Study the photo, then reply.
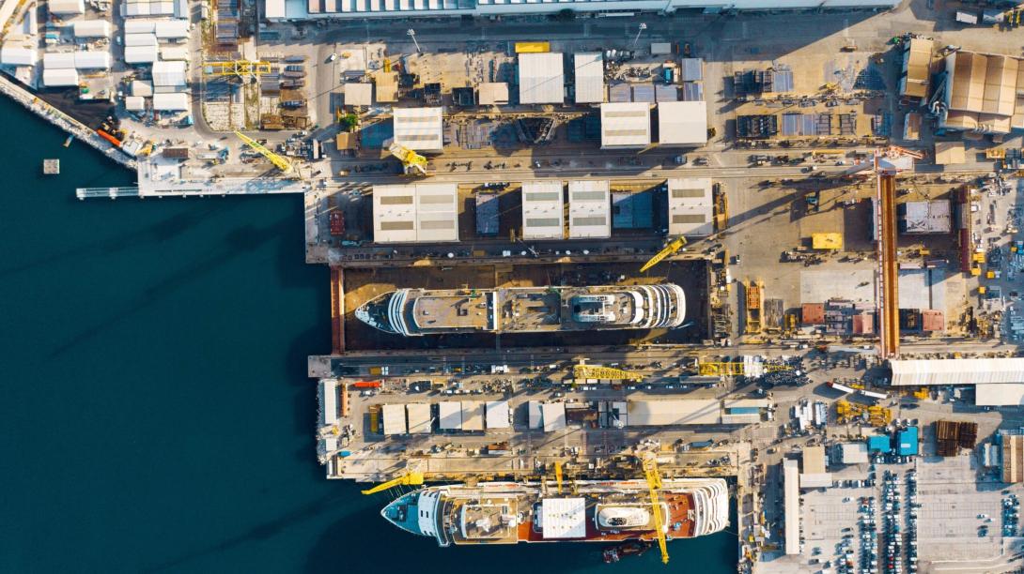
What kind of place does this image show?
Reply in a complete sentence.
The area seen from above is a port.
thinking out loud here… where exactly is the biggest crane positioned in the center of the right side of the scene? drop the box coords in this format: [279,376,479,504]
[814,149,900,358]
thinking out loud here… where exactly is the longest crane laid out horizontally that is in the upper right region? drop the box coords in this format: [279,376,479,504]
[894,148,951,163]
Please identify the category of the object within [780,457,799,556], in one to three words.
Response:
building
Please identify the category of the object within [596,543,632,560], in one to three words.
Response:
boat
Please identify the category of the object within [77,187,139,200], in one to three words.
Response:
pier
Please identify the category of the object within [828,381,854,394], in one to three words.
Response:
vehicle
